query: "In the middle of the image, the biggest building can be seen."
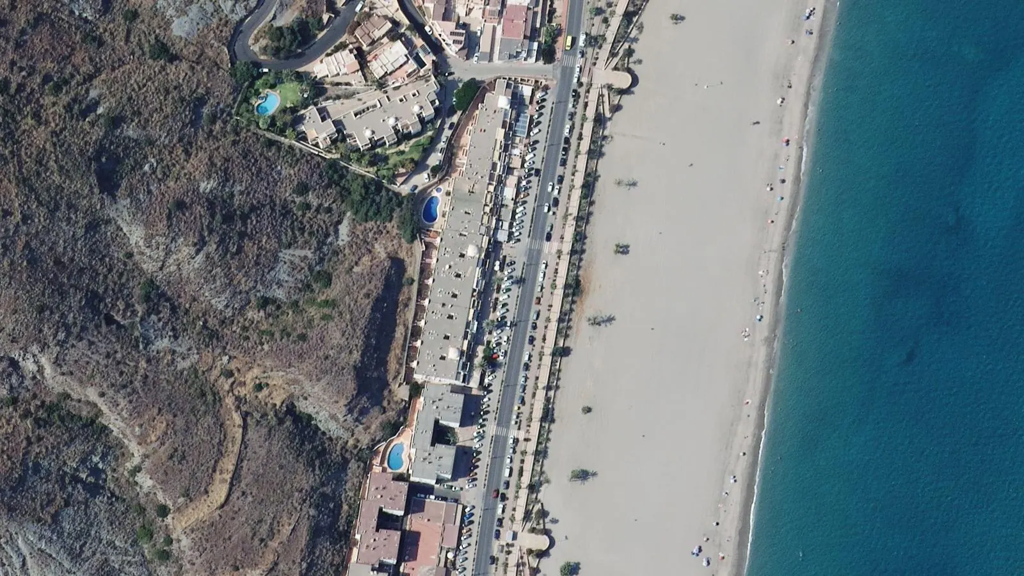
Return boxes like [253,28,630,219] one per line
[407,174,498,387]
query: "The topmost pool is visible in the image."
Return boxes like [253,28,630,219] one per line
[412,51,429,71]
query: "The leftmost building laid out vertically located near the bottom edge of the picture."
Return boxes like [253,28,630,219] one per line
[356,473,410,567]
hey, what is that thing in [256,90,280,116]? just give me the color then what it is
blue swimming pool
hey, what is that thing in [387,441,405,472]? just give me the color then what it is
blue swimming pool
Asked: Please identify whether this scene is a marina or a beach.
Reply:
beach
